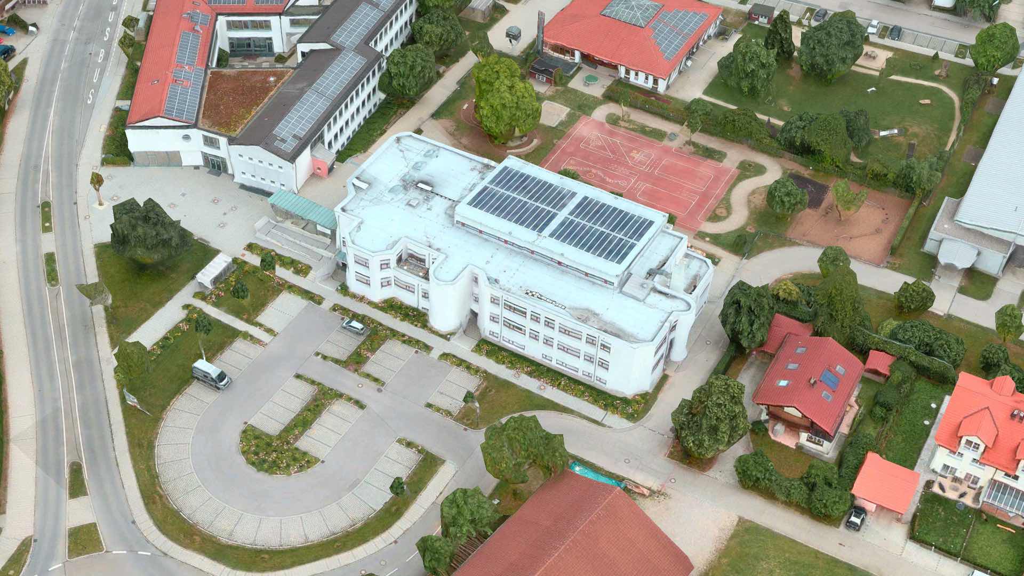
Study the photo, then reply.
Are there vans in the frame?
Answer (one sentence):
Yes, there's a van here.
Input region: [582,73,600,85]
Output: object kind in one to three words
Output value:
umbrella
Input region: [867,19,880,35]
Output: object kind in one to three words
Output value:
vehicle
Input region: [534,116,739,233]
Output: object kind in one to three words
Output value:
sports court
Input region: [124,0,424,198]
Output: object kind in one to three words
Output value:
building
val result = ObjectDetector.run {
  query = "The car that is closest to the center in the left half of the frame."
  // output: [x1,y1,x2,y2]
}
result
[338,319,370,338]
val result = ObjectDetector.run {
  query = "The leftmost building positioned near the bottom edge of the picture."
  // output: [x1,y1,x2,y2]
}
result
[462,470,692,576]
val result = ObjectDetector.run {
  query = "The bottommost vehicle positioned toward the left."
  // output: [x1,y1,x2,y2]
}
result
[189,358,233,392]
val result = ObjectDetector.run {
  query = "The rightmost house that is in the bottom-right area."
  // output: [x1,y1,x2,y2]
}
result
[927,373,1024,513]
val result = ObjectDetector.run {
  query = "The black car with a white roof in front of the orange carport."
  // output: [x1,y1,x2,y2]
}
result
[848,503,867,533]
